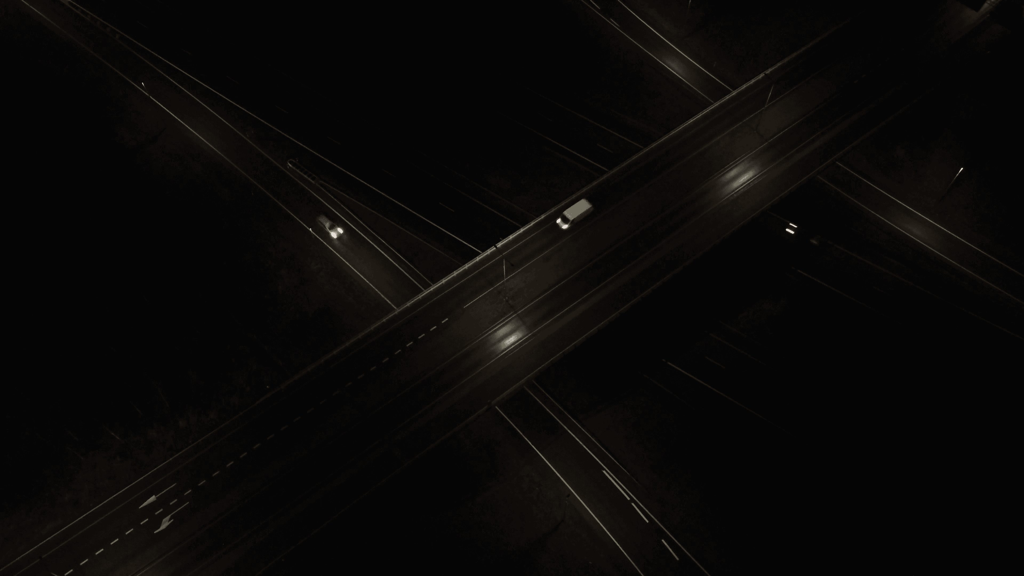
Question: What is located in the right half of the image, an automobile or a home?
automobile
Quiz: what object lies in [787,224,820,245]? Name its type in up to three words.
car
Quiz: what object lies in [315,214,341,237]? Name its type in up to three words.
car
